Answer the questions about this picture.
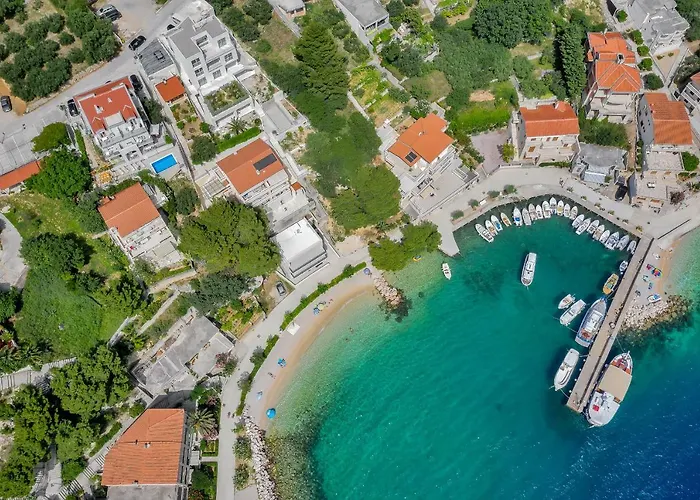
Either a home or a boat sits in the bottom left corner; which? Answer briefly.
home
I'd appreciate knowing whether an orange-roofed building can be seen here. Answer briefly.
Yes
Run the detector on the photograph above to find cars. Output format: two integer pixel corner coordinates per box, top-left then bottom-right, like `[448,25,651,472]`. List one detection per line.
[612,185,630,204]
[128,36,147,51]
[131,75,143,91]
[68,100,80,116]
[105,9,124,23]
[275,280,288,300]
[0,96,12,113]
[99,3,118,17]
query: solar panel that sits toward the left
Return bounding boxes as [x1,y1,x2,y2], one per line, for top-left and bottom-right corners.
[253,154,277,172]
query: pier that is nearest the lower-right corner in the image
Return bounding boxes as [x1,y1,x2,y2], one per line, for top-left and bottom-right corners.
[564,238,657,414]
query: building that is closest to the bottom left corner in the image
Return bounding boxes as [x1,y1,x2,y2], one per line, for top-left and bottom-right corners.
[101,408,205,500]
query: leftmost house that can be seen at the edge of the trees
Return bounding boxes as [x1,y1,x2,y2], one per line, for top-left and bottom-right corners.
[0,159,46,202]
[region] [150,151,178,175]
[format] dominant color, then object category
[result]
blue swimming pool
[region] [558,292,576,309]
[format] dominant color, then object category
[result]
white boat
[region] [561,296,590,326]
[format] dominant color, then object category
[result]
white boat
